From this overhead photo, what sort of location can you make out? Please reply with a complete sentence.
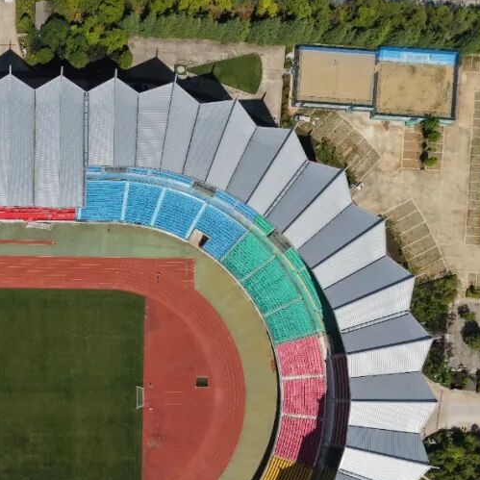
The area seen from above is a sports ground.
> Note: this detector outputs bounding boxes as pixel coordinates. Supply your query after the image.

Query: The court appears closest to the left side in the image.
[295,48,381,105]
